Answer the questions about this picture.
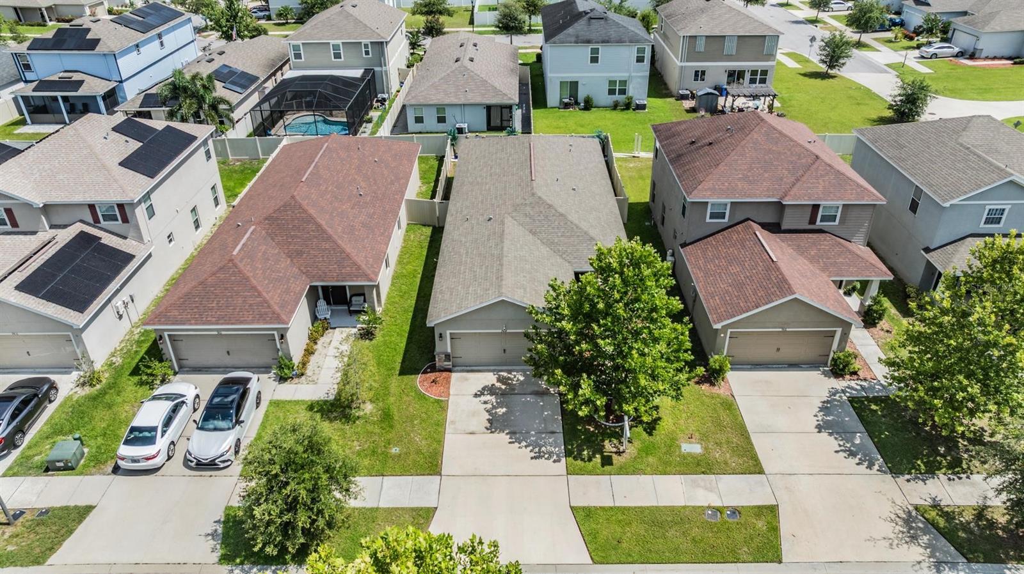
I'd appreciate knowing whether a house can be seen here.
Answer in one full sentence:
Yes, the photo shows a house.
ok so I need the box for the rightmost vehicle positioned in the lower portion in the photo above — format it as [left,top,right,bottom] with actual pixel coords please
[181,376,255,469]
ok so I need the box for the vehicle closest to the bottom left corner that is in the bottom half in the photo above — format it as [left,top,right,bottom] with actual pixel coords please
[0,374,53,452]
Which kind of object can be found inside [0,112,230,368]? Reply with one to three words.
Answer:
house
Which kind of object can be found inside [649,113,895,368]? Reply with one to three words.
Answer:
house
